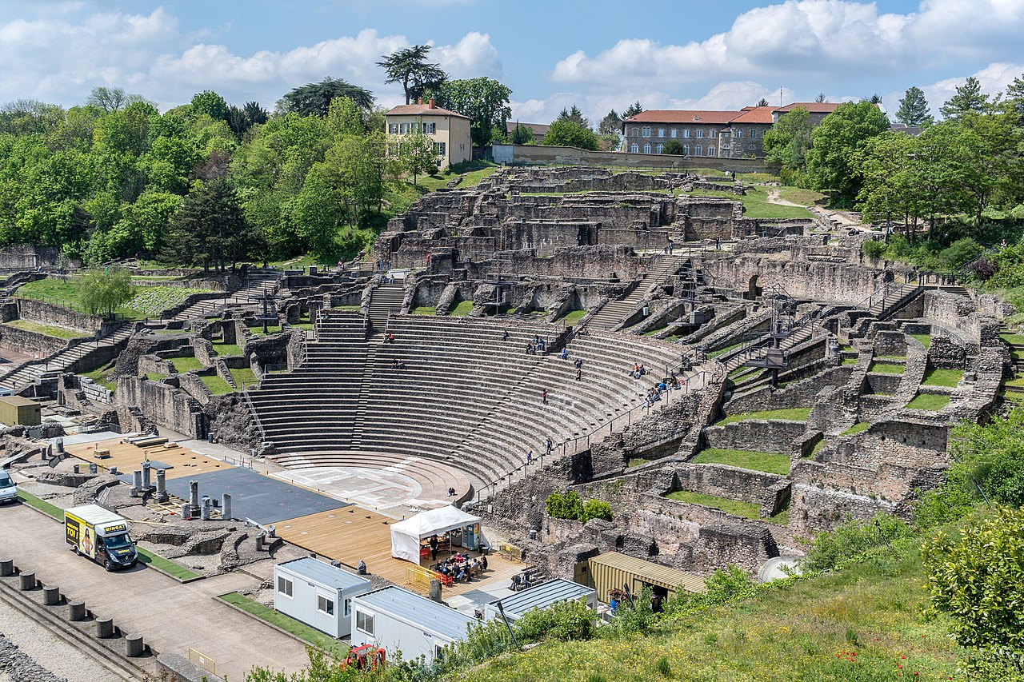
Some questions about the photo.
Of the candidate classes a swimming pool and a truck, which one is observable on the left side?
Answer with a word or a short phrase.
truck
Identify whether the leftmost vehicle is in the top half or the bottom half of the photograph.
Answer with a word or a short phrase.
bottom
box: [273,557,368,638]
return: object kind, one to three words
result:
building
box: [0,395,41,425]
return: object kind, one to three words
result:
building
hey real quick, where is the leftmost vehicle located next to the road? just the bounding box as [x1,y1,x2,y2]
[0,472,21,508]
